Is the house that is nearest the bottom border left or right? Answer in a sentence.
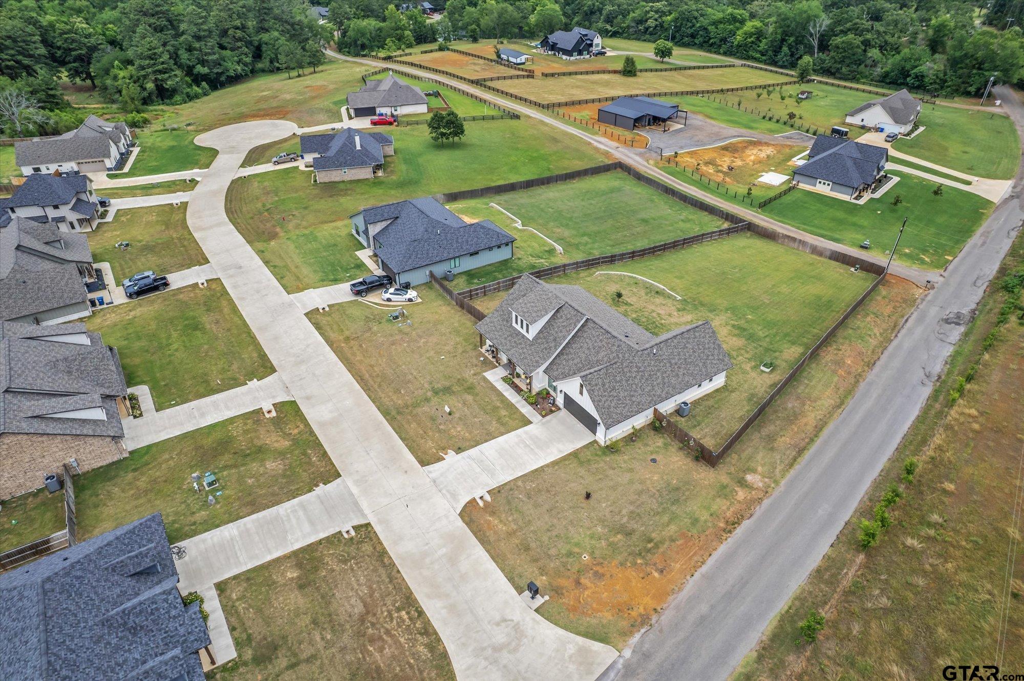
The house that is nearest the bottom border appears in the left half of the scene.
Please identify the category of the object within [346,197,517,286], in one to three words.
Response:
house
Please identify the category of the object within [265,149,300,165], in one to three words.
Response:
vehicle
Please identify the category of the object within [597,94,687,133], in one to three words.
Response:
barn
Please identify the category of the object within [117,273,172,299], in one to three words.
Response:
truck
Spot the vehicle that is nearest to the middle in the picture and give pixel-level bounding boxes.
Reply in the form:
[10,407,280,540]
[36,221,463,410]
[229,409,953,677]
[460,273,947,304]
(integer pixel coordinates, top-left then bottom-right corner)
[379,286,420,301]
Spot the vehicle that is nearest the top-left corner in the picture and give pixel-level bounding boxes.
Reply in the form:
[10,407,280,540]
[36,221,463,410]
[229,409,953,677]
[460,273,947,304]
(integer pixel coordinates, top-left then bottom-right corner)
[96,193,114,206]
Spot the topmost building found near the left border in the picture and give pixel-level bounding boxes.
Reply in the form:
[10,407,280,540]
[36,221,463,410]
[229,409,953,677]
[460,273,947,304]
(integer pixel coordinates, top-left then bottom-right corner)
[15,108,138,177]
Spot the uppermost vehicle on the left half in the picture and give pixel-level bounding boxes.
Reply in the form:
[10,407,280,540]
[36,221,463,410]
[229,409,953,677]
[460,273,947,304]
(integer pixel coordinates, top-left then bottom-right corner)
[367,113,398,125]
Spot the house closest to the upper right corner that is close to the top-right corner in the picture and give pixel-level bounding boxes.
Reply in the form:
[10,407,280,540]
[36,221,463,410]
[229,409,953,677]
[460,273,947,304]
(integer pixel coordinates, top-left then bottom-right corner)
[845,86,926,134]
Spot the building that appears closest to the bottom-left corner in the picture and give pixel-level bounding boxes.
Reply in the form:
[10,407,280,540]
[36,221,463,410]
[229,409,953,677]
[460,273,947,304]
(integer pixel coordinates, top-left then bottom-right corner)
[0,511,220,681]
